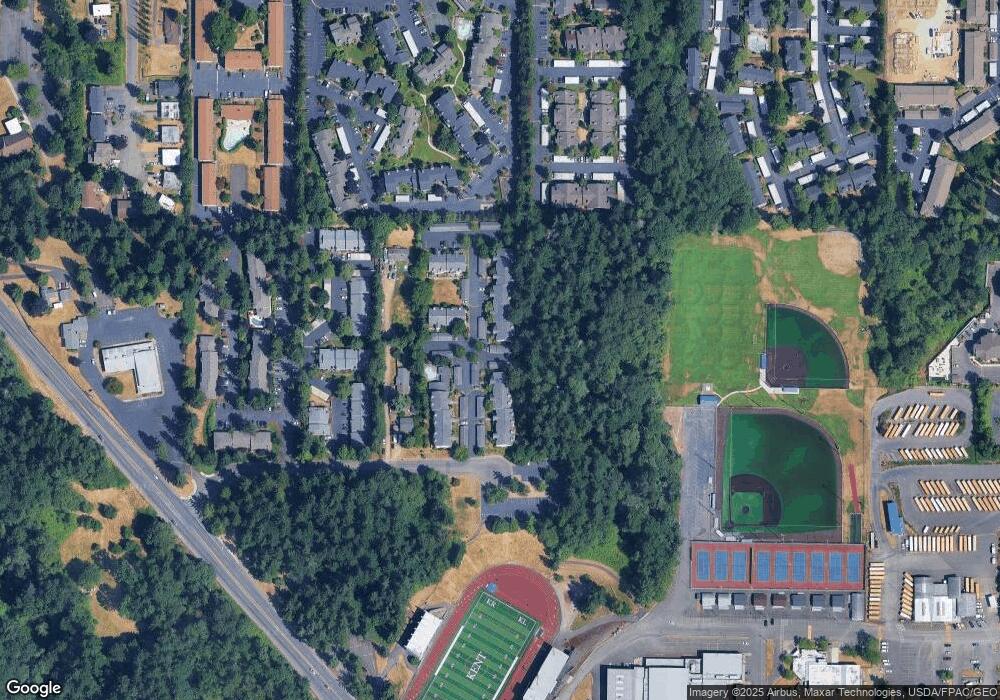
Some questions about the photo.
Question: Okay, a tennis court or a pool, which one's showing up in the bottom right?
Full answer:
It is a tennis court that can be seen in the bottom right.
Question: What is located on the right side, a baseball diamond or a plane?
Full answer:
Looking on the right side, you will find a baseball diamond.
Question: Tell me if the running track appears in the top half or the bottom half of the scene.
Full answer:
The running track sits in the bottom half of the picture.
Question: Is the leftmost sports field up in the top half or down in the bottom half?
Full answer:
The leftmost sports field is in the bottom half of the image.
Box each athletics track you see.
[403,563,558,700]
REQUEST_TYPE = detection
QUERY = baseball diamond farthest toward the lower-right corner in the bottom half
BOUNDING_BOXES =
[718,407,843,543]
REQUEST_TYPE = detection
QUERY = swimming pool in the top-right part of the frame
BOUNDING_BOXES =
[747,32,769,53]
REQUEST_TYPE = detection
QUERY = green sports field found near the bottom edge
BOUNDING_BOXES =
[416,587,542,700]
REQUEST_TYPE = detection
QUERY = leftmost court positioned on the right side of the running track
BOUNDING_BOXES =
[691,543,750,589]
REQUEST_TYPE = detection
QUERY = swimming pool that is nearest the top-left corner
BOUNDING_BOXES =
[223,121,251,150]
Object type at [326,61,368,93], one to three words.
building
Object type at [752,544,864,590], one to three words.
tennis court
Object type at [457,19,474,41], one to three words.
swimming pool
